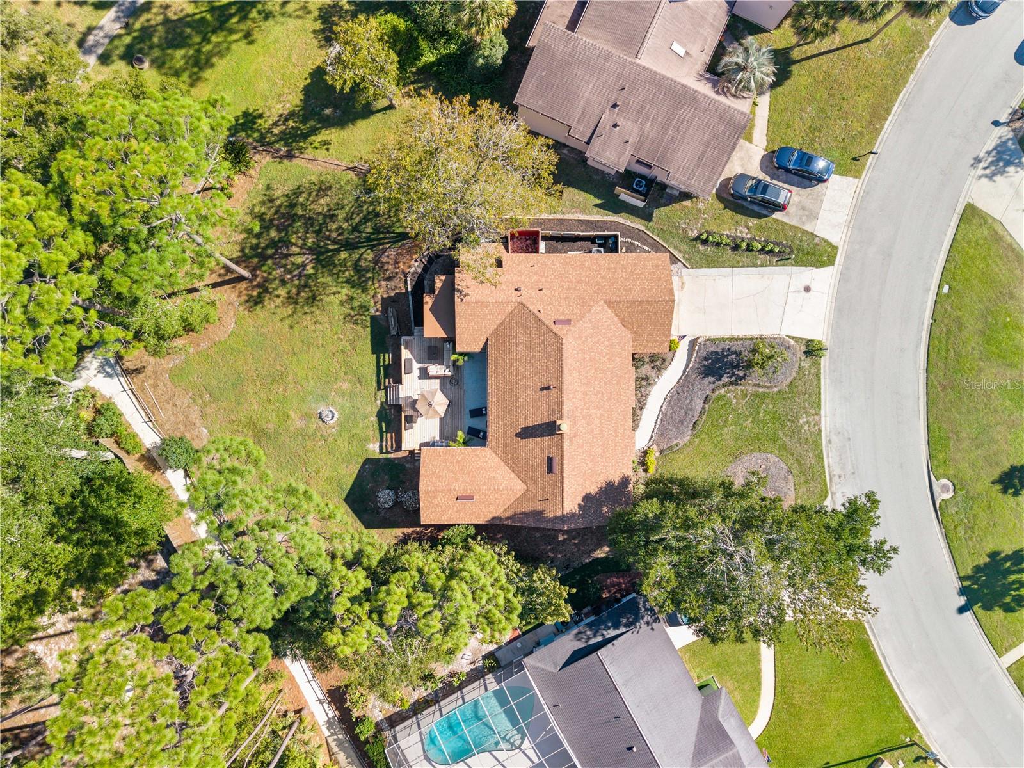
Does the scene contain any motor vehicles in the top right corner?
Yes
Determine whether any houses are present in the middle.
Yes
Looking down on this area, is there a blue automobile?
Yes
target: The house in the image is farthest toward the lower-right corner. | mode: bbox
[521,592,769,768]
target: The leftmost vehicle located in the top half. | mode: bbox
[730,175,801,214]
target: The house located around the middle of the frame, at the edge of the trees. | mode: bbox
[418,244,676,530]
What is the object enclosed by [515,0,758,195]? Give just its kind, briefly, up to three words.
house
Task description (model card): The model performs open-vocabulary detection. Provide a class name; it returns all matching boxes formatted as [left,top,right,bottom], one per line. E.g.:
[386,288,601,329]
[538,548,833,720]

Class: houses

[418,244,676,530]
[521,592,769,768]
[515,0,758,195]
